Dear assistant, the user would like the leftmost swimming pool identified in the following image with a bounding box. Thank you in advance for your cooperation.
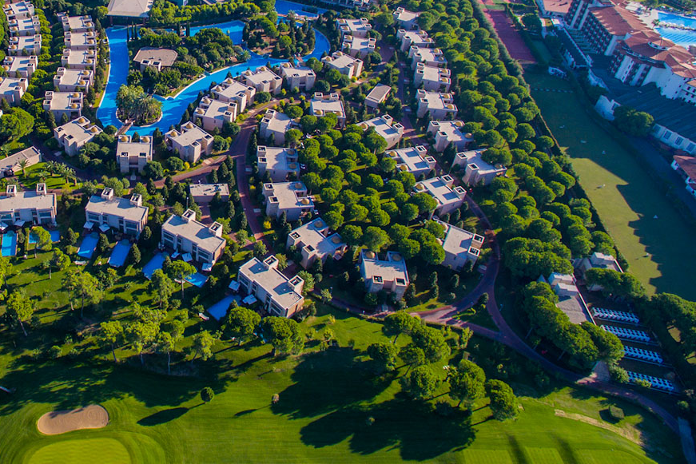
[0,230,19,257]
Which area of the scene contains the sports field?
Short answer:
right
